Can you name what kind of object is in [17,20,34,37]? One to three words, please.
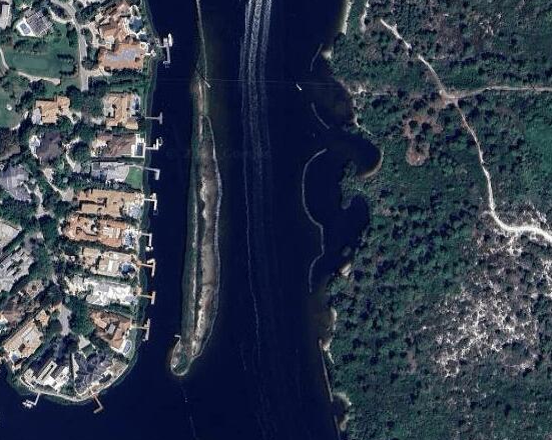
swimming pool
